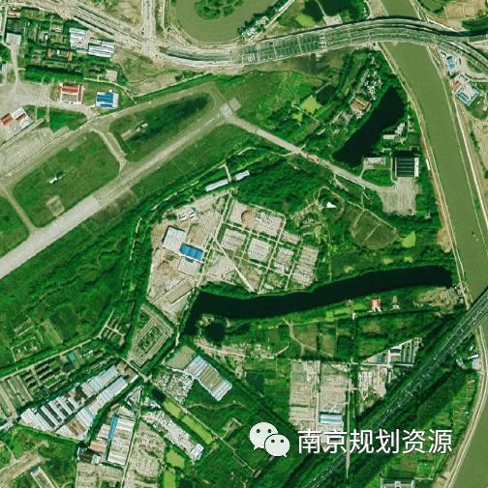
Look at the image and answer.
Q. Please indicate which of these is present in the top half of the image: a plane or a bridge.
bridge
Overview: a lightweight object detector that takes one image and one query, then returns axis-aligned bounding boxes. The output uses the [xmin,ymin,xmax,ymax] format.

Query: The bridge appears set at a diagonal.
[305,294,488,488]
